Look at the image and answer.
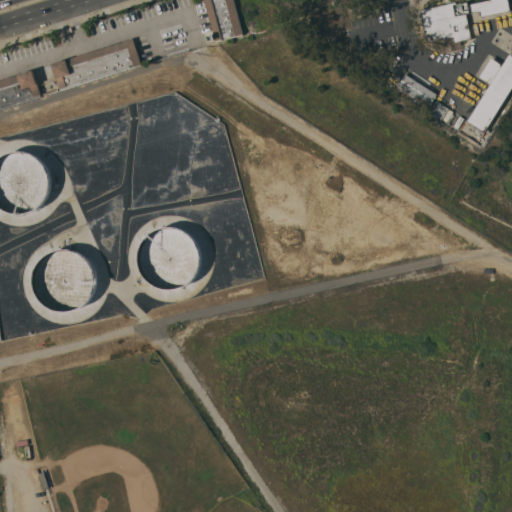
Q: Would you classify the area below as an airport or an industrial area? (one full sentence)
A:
The area seen from above is an industrial area.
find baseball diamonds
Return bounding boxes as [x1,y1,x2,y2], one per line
[21,349,246,512]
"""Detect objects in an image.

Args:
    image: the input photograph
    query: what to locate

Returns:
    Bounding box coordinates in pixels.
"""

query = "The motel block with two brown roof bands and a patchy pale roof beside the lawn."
[204,0,242,40]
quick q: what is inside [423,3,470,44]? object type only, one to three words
building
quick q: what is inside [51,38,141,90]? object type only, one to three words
building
